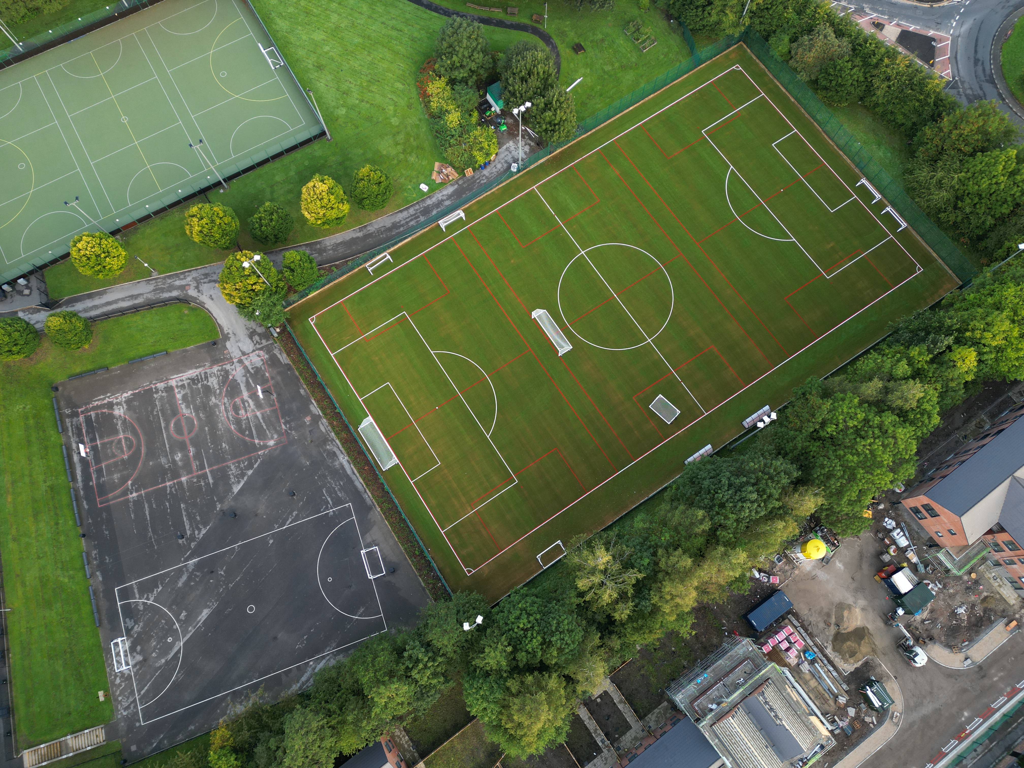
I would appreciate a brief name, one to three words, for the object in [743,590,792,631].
shipping container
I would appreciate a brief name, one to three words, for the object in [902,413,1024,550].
house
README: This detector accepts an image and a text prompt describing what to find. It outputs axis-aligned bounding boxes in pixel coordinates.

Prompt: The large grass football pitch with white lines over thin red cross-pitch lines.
[286,43,955,604]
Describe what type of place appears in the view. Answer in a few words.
sports ground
